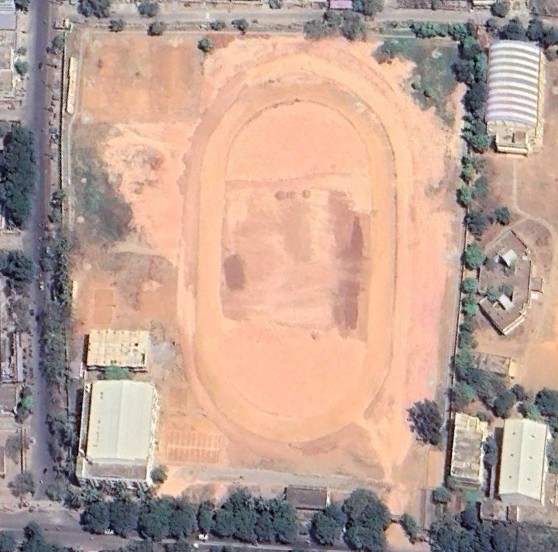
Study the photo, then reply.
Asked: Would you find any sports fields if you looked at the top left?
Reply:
Yes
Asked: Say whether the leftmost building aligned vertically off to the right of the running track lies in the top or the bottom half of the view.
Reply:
bottom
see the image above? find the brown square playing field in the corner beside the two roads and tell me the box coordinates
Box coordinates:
[82,37,203,122]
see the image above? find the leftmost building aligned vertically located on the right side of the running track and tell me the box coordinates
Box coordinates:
[451,413,488,493]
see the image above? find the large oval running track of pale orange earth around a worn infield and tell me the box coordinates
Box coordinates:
[198,75,396,440]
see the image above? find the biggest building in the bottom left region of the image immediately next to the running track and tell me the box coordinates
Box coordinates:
[77,379,160,492]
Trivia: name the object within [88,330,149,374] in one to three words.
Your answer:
building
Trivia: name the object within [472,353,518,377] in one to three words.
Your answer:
shed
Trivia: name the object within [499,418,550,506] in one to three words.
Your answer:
building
